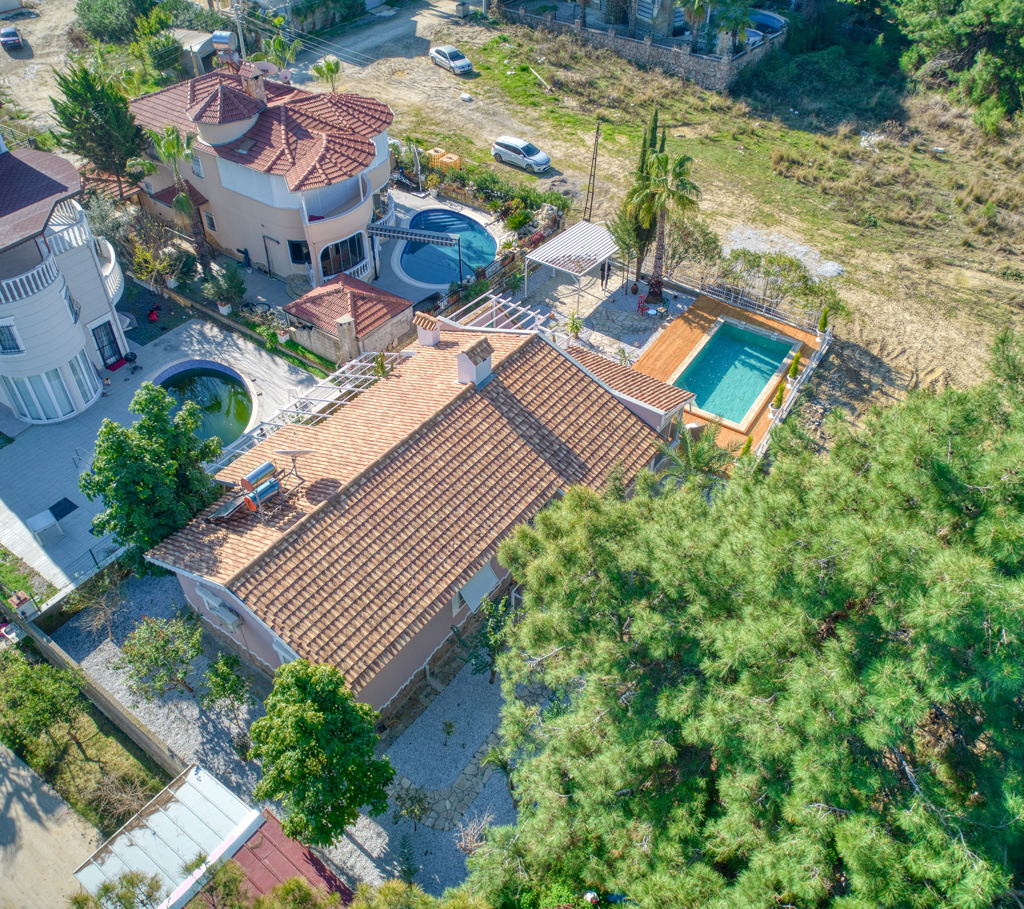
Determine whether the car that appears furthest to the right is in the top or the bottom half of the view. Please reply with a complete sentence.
Seen from above, the car that appears furthest to the right lies in the top half of the view.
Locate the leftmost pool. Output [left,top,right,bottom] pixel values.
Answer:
[83,355,263,470]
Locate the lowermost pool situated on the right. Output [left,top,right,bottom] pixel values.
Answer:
[655,317,801,431]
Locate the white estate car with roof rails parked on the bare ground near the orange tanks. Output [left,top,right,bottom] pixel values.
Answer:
[487,131,555,174]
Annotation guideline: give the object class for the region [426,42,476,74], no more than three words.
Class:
car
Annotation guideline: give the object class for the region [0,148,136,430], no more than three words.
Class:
house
